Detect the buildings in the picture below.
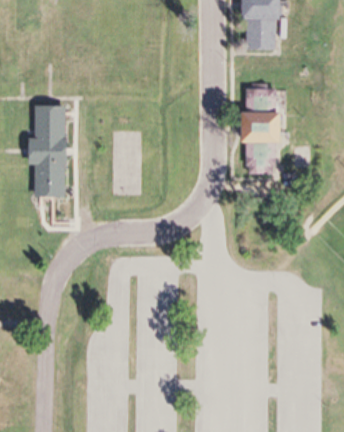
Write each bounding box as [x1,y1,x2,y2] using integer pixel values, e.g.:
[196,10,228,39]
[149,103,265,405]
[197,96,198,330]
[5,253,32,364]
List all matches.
[242,0,288,50]
[28,105,67,196]
[241,82,280,174]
